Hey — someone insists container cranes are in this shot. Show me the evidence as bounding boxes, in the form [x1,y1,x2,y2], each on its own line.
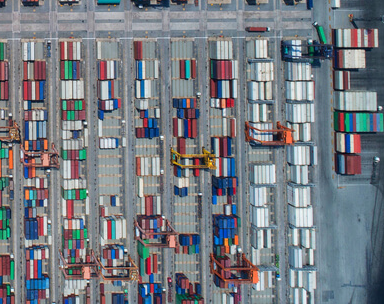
[279,38,334,61]
[0,116,22,141]
[170,144,220,169]
[97,251,144,282]
[59,248,102,281]
[244,120,295,146]
[210,252,261,283]
[20,142,61,168]
[134,218,180,248]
